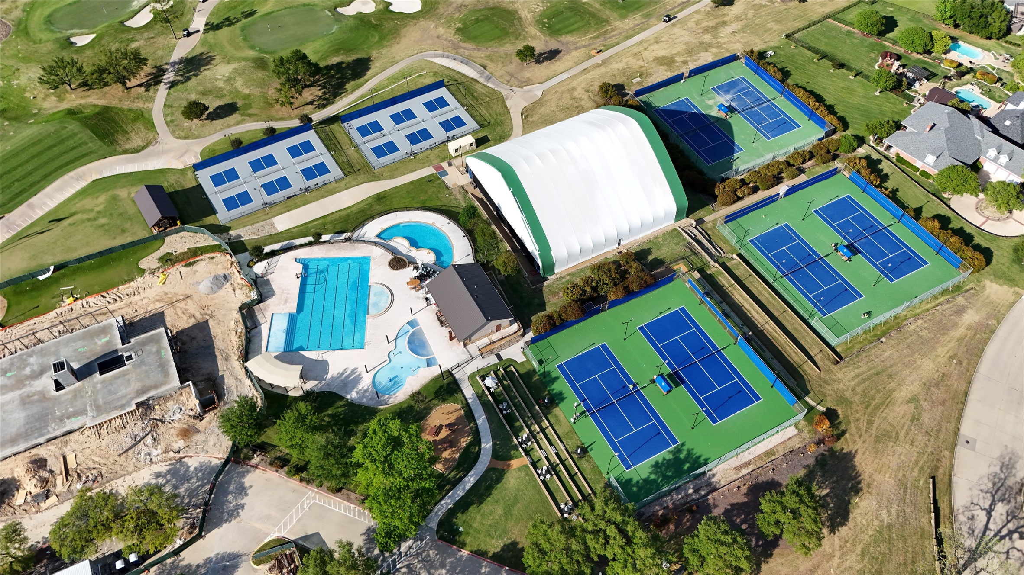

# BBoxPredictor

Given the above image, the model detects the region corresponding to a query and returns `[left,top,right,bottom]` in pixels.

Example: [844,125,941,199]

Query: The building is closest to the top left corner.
[134,184,181,232]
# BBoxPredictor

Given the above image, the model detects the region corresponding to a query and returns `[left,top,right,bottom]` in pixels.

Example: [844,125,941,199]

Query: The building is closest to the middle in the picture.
[426,263,514,347]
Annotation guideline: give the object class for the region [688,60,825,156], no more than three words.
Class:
tennis court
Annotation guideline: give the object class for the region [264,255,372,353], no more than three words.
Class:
swimming pool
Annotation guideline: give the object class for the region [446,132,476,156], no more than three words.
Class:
shed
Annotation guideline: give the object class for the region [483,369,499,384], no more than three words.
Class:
umbrella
